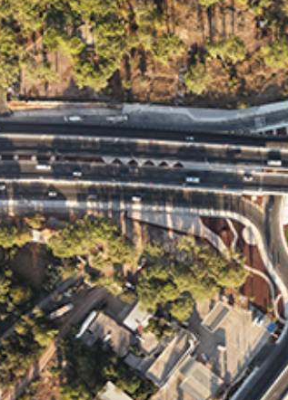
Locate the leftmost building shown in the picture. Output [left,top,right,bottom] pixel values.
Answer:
[85,333,113,359]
